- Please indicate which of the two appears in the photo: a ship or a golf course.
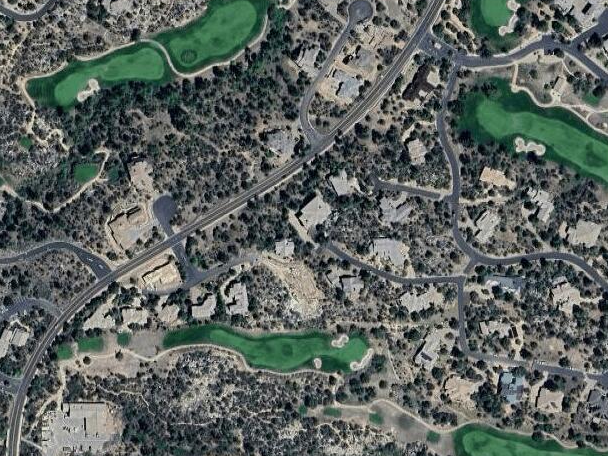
golf course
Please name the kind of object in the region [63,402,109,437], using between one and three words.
building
